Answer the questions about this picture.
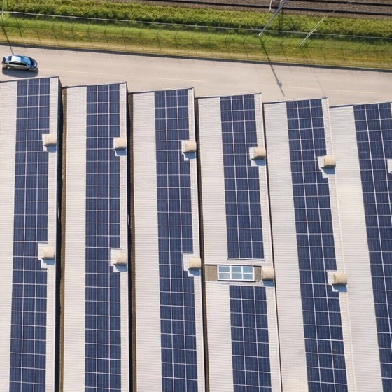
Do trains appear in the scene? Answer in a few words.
No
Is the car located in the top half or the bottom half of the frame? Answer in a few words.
top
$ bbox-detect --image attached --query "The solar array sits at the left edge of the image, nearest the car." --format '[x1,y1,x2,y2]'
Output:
[8,80,50,392]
